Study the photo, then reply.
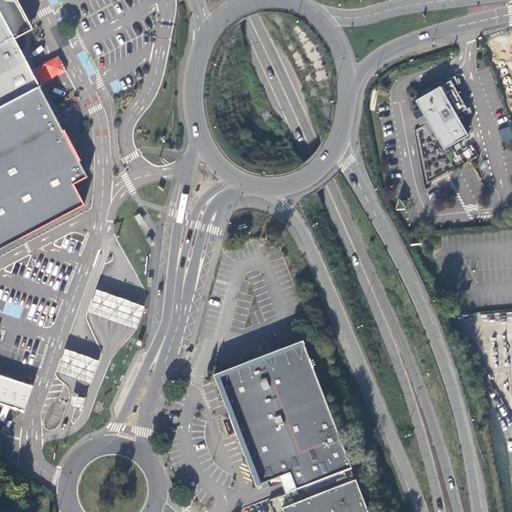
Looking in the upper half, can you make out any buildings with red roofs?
Yes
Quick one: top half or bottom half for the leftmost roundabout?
bottom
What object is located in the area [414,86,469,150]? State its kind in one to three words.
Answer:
building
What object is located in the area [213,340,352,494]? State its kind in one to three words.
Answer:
building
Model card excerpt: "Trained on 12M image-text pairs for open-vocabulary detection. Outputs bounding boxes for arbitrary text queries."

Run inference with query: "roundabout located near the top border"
[182,0,356,198]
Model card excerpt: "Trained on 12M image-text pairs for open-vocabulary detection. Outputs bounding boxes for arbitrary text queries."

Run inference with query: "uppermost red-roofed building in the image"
[34,56,66,85]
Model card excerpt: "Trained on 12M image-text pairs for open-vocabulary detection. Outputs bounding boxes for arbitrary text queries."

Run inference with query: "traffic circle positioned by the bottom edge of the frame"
[52,432,176,512]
